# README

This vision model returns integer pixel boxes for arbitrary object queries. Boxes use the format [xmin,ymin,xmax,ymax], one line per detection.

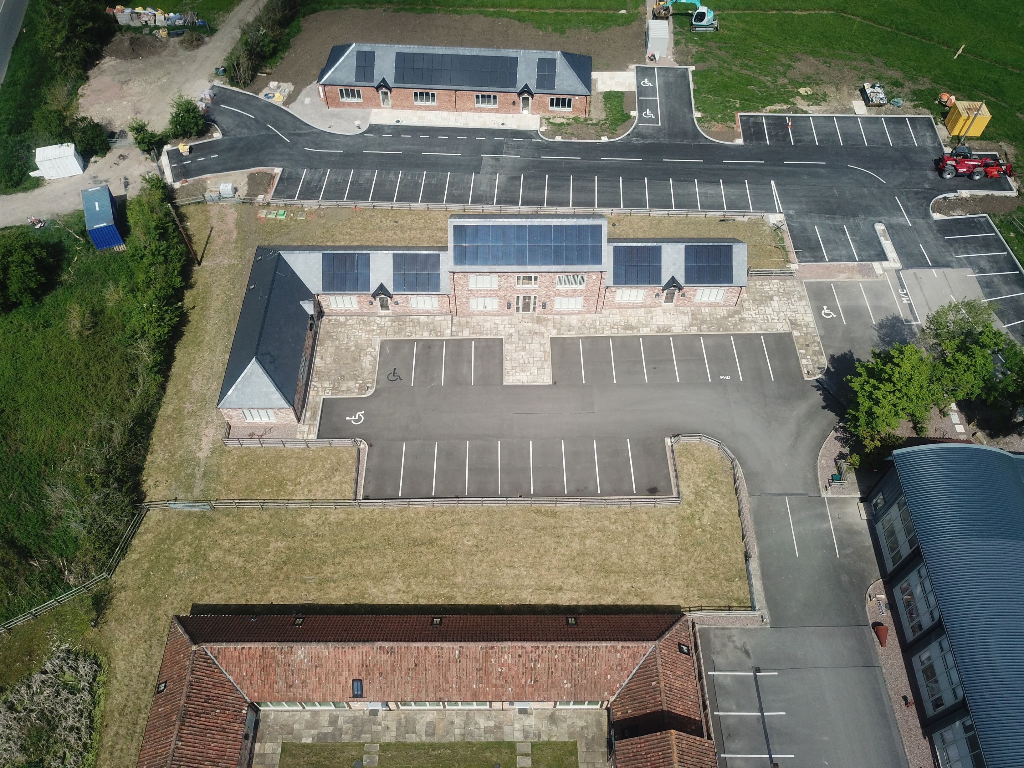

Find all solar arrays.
[614,245,662,284]
[354,50,375,82]
[536,56,556,88]
[321,253,370,292]
[392,253,440,292]
[453,224,602,265]
[394,52,518,87]
[685,245,733,283]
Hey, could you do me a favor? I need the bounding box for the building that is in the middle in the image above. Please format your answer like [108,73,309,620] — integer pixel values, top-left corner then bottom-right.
[216,213,746,423]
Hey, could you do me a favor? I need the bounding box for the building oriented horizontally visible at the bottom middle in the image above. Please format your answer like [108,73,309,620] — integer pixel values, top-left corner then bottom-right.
[133,613,719,768]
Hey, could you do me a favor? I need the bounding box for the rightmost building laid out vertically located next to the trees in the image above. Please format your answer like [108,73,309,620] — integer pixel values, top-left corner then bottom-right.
[875,443,1024,768]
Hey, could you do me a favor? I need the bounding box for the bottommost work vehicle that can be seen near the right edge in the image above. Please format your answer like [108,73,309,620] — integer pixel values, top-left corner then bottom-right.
[937,146,1008,179]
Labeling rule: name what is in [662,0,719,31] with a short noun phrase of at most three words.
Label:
work vehicle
